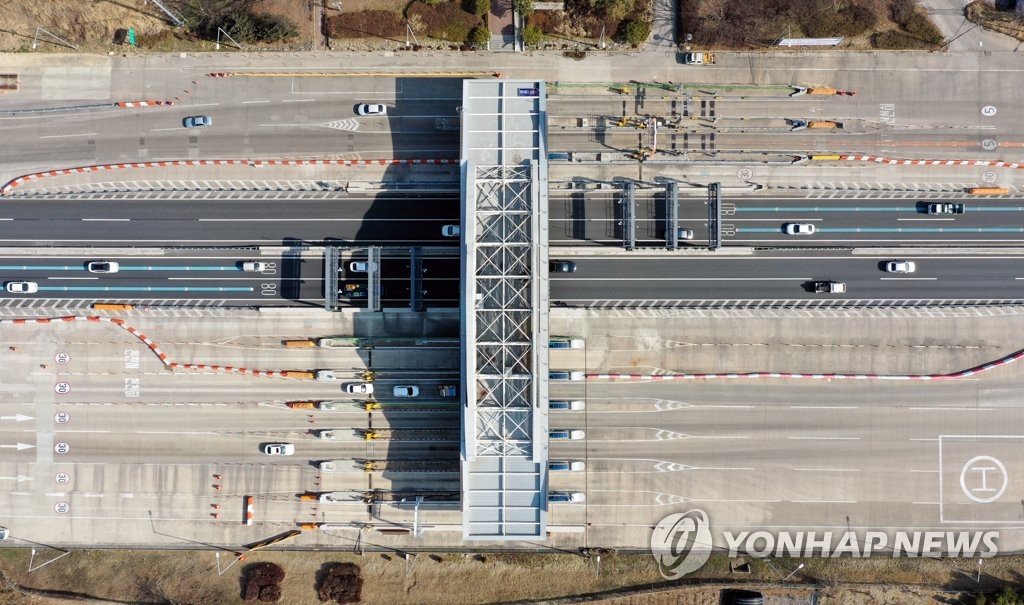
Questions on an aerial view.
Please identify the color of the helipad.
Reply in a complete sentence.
The color of the helipad is white.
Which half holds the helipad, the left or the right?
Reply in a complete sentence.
The helipad is on the right side of the image.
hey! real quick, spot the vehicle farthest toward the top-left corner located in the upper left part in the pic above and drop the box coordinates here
[184,114,214,128]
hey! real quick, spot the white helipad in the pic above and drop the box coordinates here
[941,436,1024,523]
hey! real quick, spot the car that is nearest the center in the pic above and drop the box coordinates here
[548,260,576,273]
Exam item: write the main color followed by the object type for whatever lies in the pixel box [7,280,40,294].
white car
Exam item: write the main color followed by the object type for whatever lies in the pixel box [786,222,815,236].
white car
